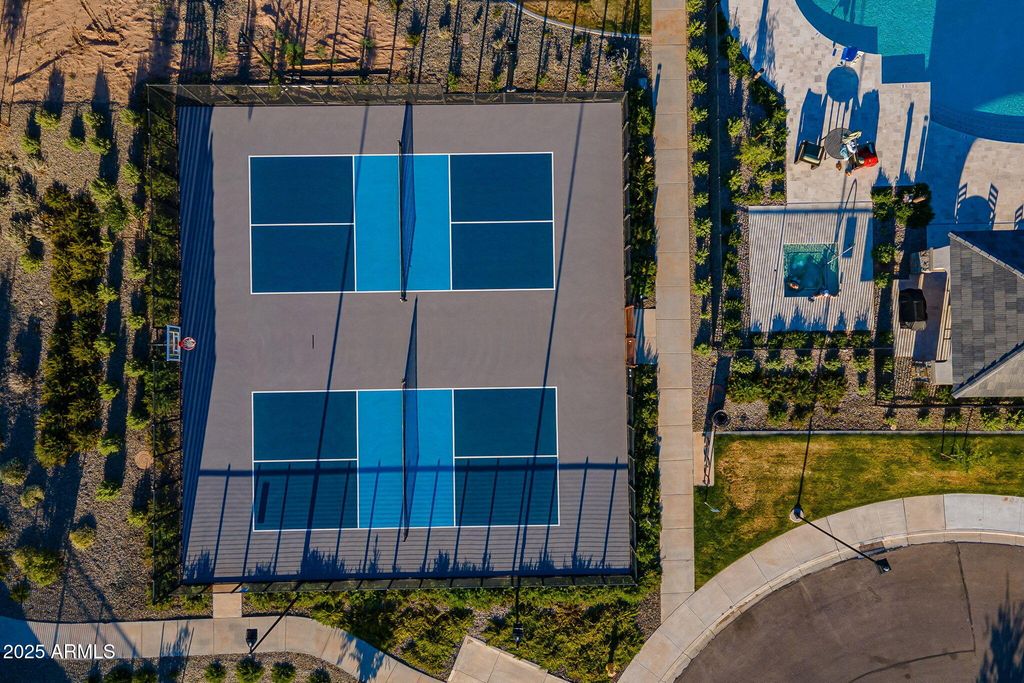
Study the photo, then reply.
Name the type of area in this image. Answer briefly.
sports ground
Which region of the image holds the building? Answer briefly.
right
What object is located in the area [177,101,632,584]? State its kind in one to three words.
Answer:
sports court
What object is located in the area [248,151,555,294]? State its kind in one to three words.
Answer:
sports court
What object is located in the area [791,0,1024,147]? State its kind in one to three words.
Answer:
swimming pool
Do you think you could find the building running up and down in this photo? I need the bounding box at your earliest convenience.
[948,232,1024,399]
